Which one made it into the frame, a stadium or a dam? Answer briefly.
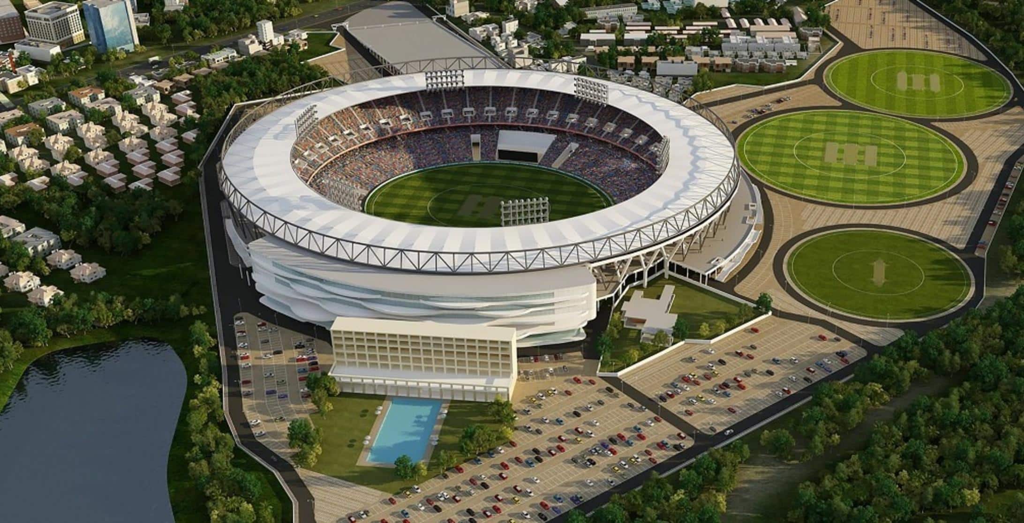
stadium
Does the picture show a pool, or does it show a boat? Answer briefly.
pool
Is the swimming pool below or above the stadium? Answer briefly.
below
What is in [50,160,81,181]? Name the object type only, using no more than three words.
house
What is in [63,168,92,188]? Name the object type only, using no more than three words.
house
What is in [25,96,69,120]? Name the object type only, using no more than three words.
building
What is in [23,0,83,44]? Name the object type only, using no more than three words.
building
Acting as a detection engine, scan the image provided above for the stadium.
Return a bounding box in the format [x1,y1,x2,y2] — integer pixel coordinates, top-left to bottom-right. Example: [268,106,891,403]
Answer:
[218,54,746,297]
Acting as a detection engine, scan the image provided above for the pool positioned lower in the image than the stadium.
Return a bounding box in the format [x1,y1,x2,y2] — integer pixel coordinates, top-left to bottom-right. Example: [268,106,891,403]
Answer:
[356,396,452,467]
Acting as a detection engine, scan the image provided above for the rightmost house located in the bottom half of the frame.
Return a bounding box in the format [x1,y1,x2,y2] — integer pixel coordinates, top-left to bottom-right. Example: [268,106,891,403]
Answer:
[621,285,678,346]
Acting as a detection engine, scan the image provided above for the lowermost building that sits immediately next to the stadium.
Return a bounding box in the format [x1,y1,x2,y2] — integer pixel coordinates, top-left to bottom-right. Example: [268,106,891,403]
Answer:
[325,316,516,399]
